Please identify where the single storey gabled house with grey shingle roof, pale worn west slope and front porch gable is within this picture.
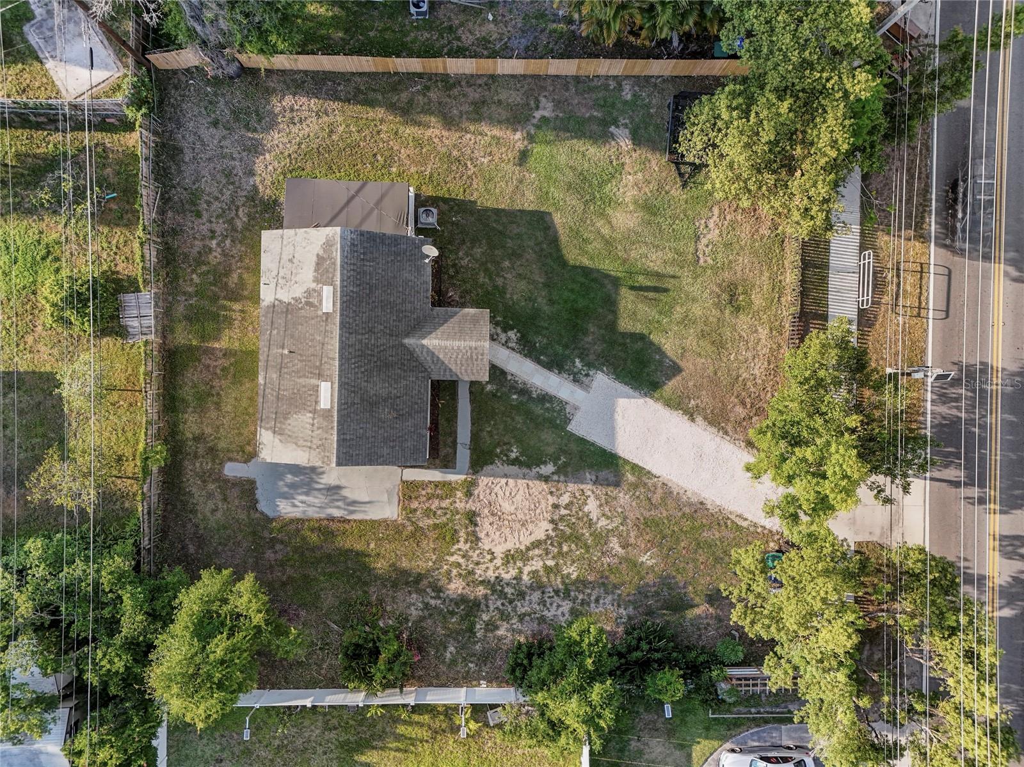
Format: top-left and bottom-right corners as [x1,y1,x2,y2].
[257,178,494,466]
